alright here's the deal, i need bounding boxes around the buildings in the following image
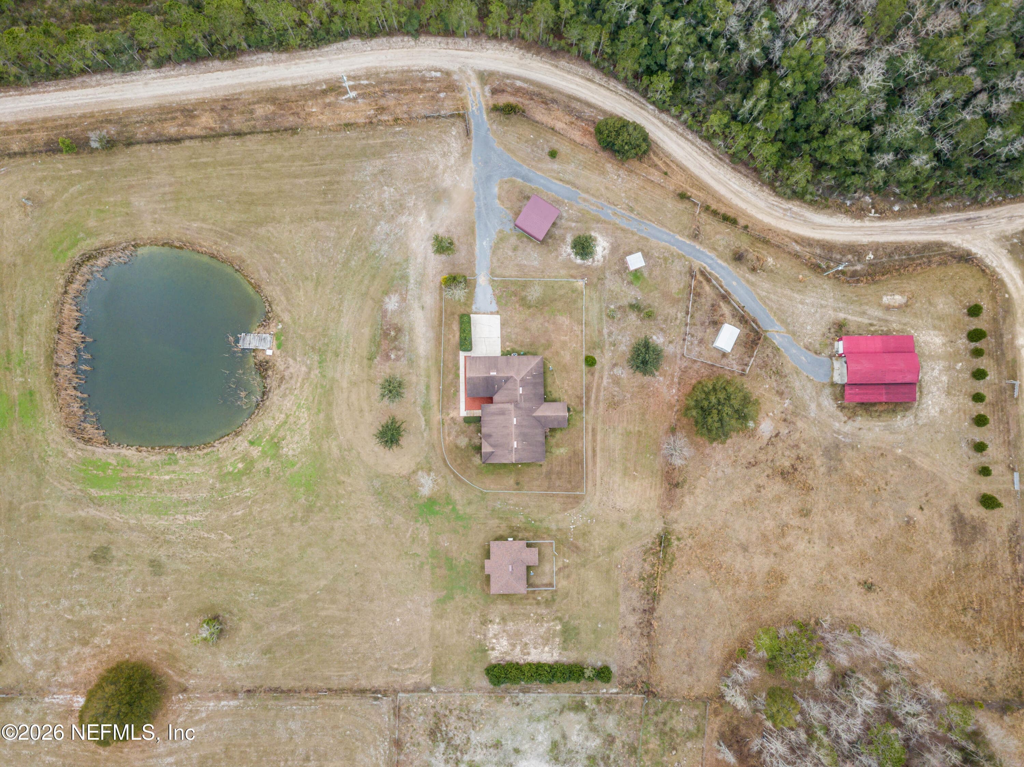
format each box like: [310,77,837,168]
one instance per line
[625,252,645,272]
[711,324,740,353]
[466,355,568,463]
[514,194,560,244]
[485,541,538,594]
[837,335,920,402]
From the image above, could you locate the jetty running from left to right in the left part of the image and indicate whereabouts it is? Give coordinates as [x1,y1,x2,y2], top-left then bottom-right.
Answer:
[237,333,273,349]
